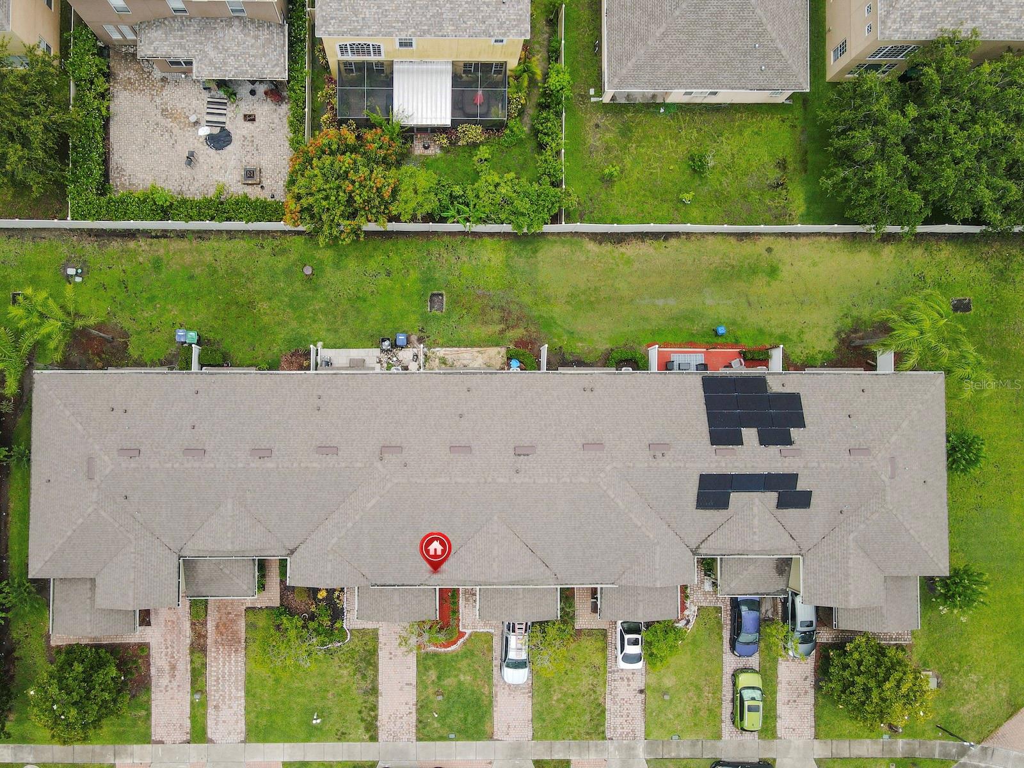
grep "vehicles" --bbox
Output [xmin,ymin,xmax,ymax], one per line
[500,622,533,686]
[728,597,763,657]
[730,667,766,731]
[615,621,647,672]
[781,591,820,659]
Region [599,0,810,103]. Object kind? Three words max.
house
